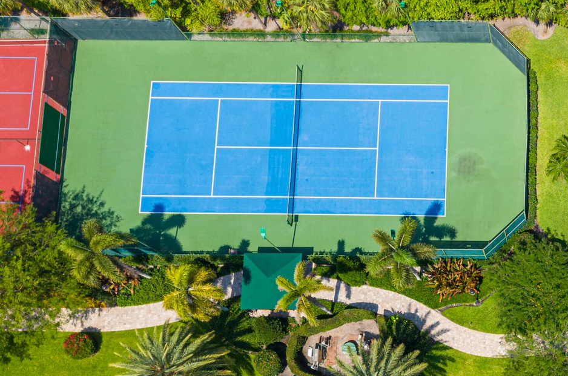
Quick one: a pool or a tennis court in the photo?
tennis court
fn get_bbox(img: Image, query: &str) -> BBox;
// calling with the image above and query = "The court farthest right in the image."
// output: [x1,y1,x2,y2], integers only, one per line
[60,40,528,260]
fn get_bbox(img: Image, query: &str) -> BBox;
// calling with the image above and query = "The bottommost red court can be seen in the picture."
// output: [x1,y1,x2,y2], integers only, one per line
[0,40,69,261]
